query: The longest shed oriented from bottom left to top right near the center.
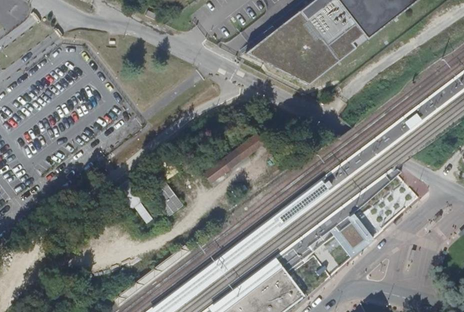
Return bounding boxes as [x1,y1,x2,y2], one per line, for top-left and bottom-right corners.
[204,135,261,185]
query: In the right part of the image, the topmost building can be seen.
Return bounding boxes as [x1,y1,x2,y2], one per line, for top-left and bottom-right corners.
[248,0,418,85]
